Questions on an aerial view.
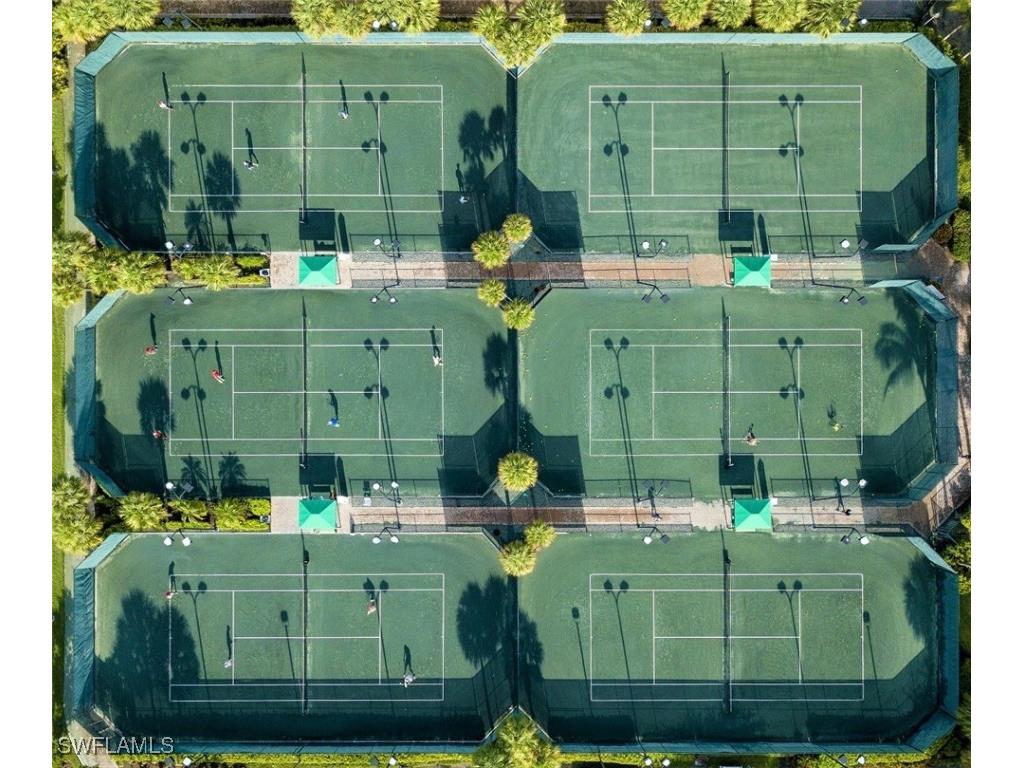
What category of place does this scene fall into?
sports ground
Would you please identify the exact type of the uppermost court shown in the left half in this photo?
tennis court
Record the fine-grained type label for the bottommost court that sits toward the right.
tennis court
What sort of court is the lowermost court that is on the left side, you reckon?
tennis court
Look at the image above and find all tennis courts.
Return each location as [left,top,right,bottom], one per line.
[95,288,516,497]
[516,533,936,741]
[95,533,516,741]
[516,288,936,497]
[516,44,936,252]
[95,44,516,252]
